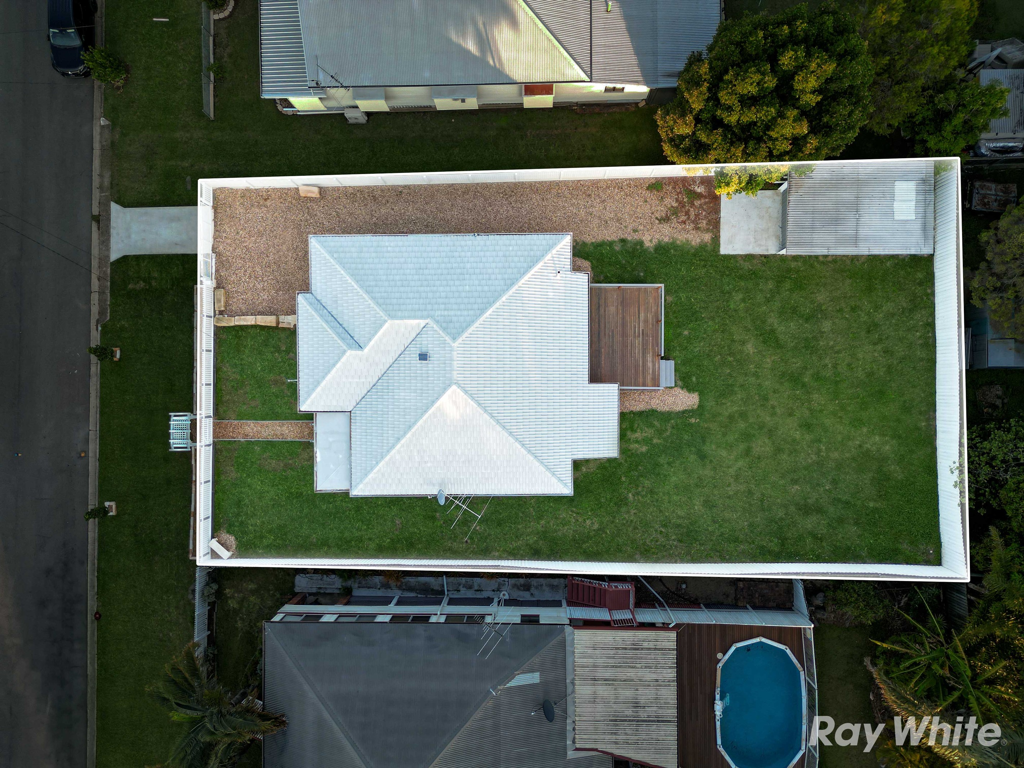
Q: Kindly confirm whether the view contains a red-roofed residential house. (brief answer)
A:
No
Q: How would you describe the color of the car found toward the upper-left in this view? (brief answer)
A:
black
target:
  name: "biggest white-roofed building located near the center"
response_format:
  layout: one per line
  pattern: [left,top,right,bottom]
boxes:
[295,232,621,498]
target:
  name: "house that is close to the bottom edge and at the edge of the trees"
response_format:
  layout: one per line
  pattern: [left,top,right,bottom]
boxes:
[262,575,612,768]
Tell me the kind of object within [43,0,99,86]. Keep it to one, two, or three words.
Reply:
car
